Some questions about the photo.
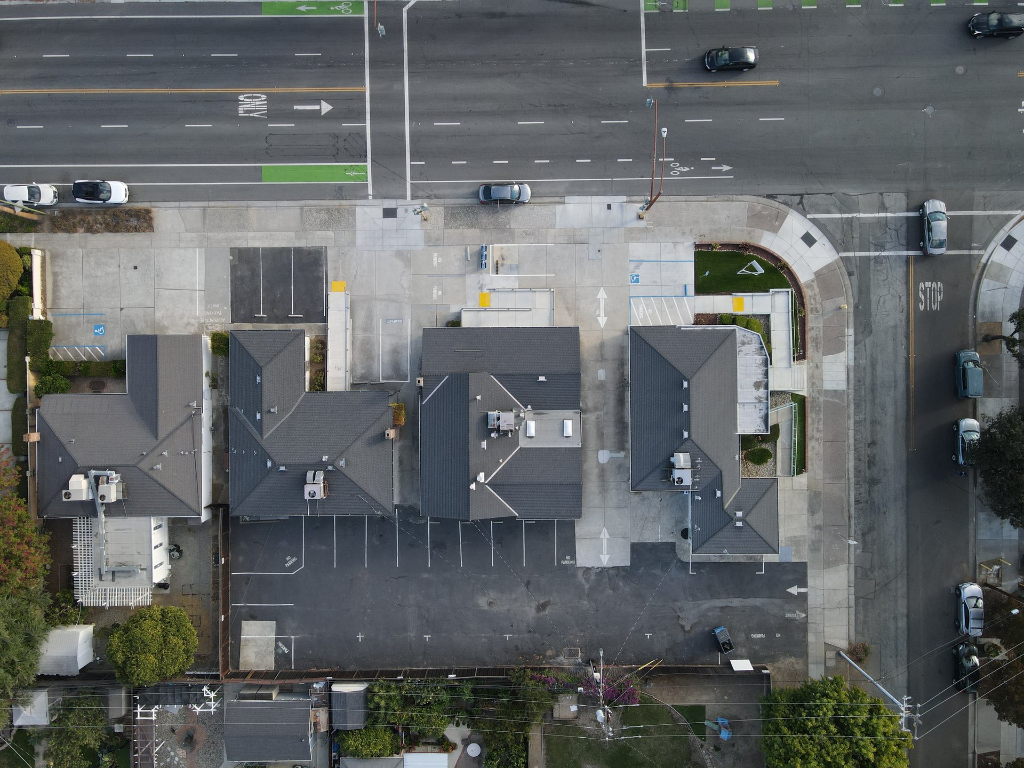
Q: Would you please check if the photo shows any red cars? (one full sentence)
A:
No, I find no red car anywhere in the image.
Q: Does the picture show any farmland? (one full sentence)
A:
No, farmland can't be seen anywhere here.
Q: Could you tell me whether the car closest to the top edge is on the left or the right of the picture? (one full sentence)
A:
You can find the car closest to the top edge on the right side of the picture.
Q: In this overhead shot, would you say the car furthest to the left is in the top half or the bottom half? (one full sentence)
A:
The car furthest to the left is in the top half of the image.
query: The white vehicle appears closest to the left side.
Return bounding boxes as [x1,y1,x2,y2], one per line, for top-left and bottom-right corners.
[1,182,58,206]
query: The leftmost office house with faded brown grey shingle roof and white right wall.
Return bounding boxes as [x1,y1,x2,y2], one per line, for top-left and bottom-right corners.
[23,334,211,518]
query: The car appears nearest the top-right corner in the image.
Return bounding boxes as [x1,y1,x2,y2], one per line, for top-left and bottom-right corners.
[968,10,1024,40]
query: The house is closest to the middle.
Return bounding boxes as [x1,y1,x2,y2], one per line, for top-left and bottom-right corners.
[416,326,583,520]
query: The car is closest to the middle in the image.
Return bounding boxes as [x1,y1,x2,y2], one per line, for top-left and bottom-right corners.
[479,180,531,205]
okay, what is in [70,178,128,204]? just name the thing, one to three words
car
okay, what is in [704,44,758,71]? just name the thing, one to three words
car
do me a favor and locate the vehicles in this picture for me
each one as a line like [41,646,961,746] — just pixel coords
[952,418,982,467]
[704,44,758,71]
[920,200,949,254]
[968,10,1024,40]
[955,349,985,398]
[479,180,531,205]
[1,182,58,206]
[951,642,980,694]
[70,178,128,204]
[954,583,984,637]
